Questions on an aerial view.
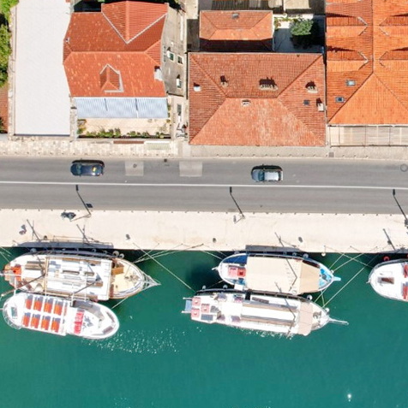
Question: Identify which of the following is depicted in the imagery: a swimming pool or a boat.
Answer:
boat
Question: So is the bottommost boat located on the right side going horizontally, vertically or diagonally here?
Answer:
horizontally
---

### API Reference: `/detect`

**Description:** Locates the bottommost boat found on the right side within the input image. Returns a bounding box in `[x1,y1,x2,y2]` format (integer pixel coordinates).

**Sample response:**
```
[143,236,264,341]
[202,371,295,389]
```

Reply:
[182,284,349,340]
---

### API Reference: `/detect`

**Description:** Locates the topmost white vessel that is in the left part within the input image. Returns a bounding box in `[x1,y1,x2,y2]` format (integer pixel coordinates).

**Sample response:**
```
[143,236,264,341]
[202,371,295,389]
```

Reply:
[0,247,161,300]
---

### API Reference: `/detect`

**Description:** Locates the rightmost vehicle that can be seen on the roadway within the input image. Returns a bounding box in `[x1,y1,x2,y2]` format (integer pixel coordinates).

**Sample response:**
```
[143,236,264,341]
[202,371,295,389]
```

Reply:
[252,166,282,182]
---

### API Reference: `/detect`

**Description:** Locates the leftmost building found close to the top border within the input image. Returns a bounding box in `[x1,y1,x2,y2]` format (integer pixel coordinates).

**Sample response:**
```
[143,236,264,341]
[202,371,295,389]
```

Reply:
[15,0,84,136]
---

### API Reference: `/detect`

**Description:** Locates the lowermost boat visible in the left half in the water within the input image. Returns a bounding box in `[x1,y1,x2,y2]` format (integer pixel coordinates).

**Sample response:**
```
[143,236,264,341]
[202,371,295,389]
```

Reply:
[0,291,124,337]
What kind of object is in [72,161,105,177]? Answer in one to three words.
car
